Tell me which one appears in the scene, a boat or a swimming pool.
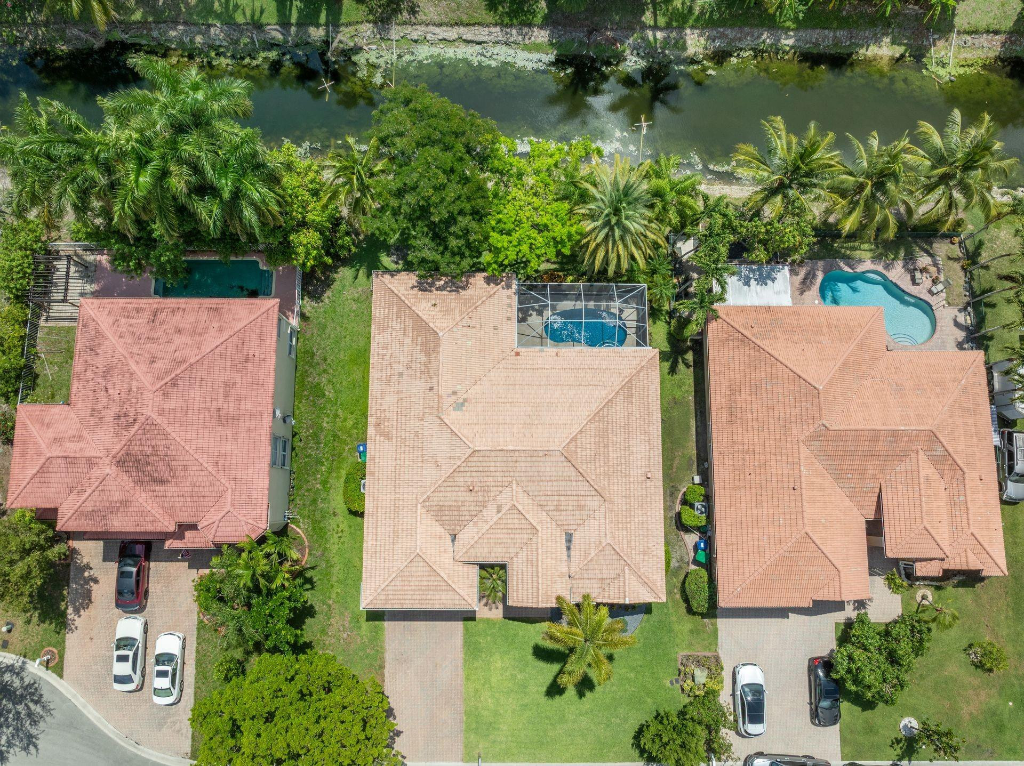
swimming pool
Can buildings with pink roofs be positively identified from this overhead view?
Yes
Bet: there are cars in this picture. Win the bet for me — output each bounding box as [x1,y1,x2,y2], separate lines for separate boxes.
[741,750,828,766]
[113,540,153,614]
[729,660,768,741]
[804,652,846,729]
[996,428,1024,502]
[150,629,187,705]
[110,613,150,693]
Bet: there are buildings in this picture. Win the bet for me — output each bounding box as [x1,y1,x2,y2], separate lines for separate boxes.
[706,305,1010,609]
[360,270,668,612]
[4,296,297,549]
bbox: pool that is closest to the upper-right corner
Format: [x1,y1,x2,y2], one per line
[817,266,939,348]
